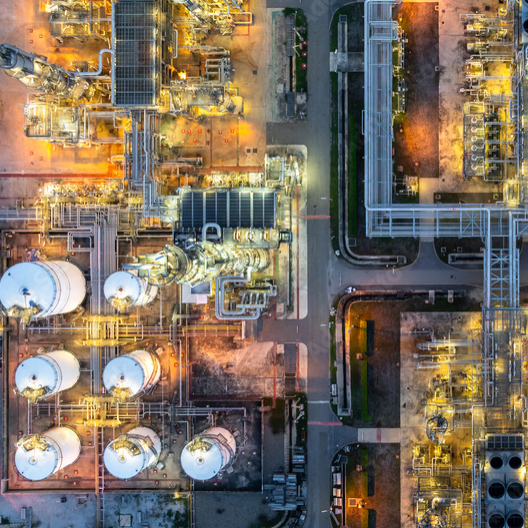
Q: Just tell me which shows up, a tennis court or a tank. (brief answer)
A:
tank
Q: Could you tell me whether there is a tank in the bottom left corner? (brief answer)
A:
Yes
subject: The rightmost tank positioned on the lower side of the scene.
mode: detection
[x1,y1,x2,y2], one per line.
[180,418,239,480]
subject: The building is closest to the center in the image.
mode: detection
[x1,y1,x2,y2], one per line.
[183,283,216,305]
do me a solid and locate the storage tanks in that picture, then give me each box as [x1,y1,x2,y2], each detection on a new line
[180,418,239,480]
[14,347,83,402]
[14,426,83,481]
[102,347,166,402]
[103,270,162,313]
[102,416,167,479]
[0,259,87,322]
